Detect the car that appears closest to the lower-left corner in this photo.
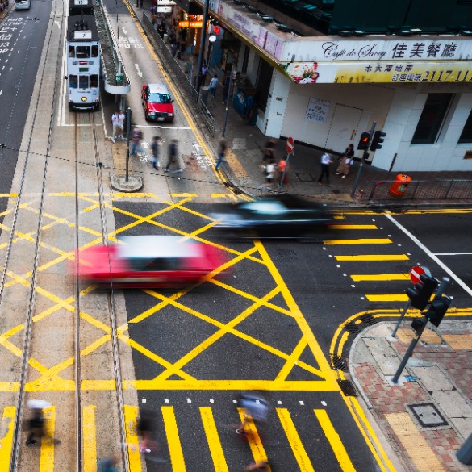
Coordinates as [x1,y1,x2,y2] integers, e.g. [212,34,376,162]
[81,222,226,285]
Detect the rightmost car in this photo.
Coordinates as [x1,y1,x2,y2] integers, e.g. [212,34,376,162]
[202,180,339,235]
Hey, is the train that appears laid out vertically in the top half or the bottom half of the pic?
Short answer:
top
